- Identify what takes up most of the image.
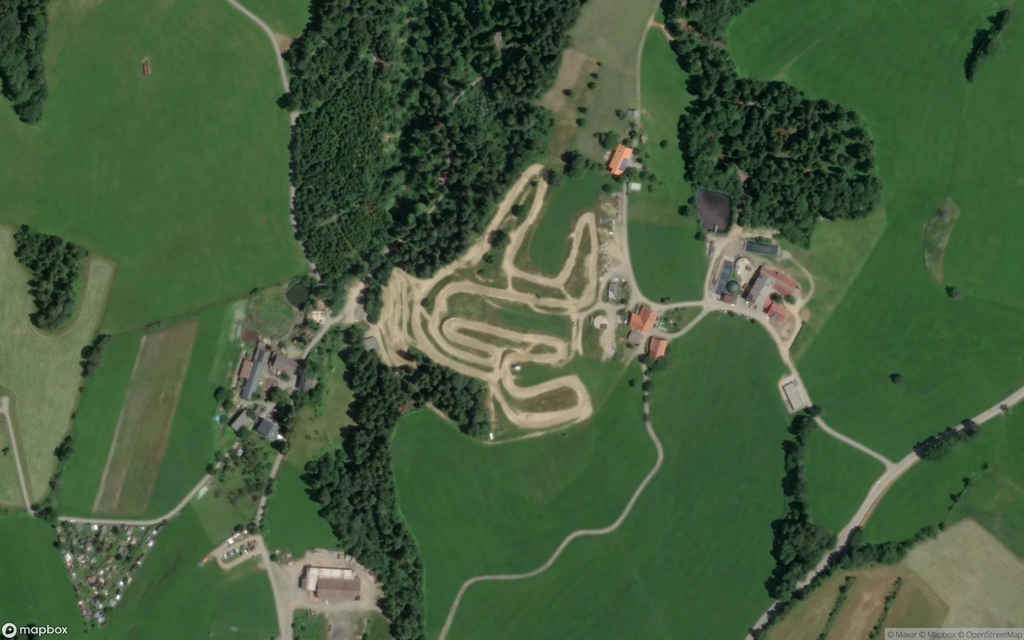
grass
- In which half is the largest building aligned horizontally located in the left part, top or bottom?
bottom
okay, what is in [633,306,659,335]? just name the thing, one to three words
house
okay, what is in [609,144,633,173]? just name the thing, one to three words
house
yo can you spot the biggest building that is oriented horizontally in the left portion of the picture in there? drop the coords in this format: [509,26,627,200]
[317,579,360,600]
